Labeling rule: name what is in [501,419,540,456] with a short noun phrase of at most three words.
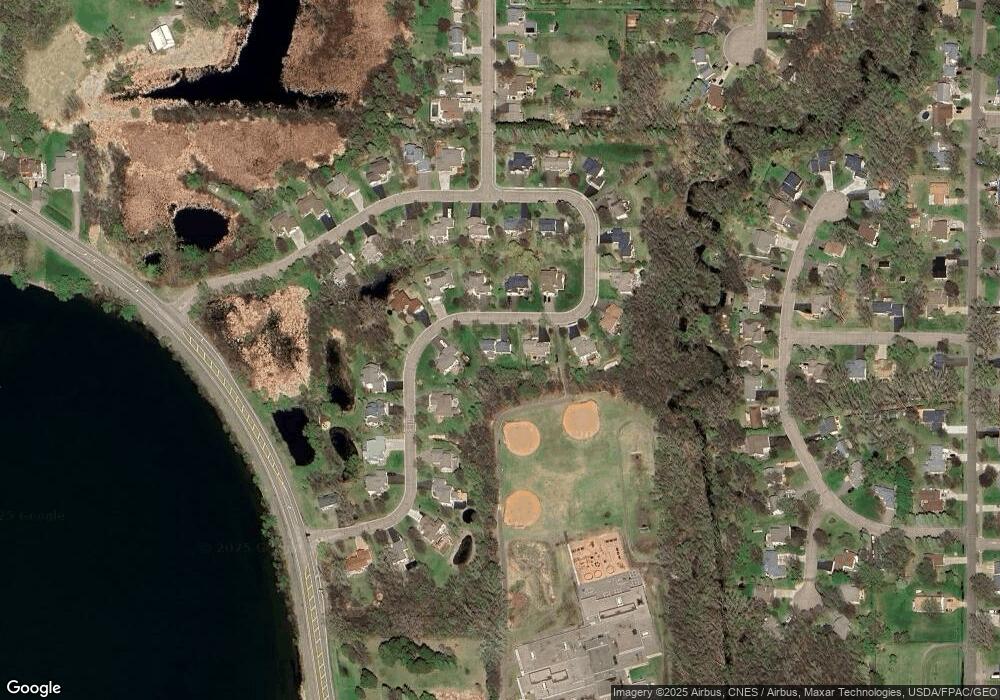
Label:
baseball field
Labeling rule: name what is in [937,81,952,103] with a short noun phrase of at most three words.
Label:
house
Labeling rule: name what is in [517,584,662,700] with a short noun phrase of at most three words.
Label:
building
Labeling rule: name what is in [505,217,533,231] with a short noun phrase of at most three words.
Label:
house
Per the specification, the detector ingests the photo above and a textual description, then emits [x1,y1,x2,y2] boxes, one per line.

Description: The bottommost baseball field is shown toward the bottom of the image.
[502,489,541,528]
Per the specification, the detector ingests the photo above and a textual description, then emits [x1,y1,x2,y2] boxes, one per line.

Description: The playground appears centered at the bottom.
[567,532,629,584]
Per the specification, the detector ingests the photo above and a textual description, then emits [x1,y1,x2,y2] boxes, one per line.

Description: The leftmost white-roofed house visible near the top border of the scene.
[149,26,173,54]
